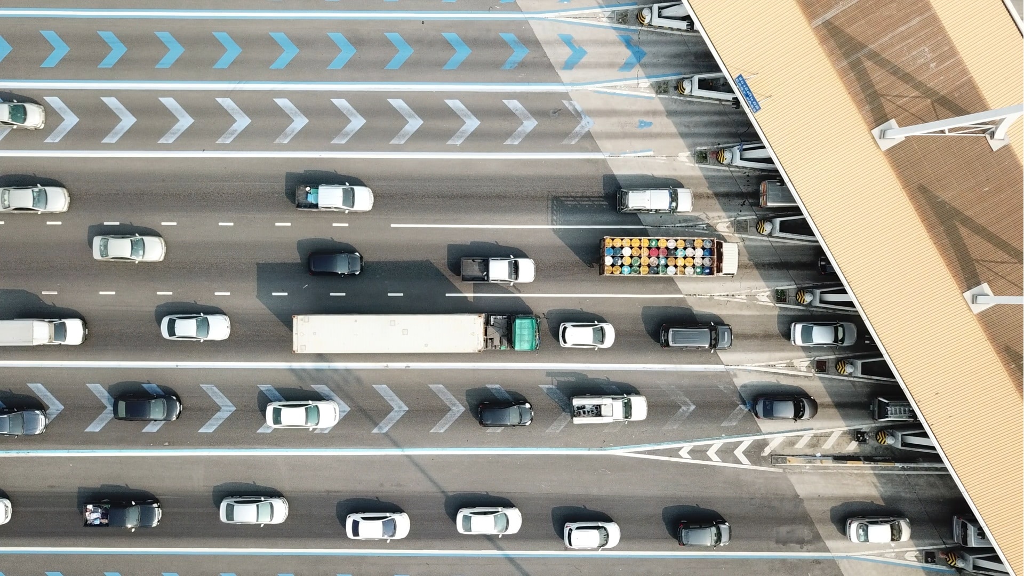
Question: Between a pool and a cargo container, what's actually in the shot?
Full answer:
Looking from above, you can make out a cargo container.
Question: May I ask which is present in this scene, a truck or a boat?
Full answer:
There is a truck in the scene.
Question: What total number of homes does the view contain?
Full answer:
There are no homes in the image.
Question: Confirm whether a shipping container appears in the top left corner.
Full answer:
No, there is no shipping container in the top left corner.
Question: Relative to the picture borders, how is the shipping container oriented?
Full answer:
The shipping container has been laid out from side to side relative to the frame.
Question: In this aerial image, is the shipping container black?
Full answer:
No, the color of the shipping container is white.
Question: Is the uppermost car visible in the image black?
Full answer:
No, from above the uppermost car looks white.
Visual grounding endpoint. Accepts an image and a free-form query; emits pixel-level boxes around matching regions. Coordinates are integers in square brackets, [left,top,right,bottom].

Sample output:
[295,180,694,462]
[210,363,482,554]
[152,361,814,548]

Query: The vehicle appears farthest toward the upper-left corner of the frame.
[0,99,48,131]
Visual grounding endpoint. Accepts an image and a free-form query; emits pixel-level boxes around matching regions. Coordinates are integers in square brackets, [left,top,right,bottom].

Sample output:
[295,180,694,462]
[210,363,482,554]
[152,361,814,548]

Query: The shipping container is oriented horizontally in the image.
[293,313,485,353]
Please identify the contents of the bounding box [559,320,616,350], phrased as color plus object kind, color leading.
white car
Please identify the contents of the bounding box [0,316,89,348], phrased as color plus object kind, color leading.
white truck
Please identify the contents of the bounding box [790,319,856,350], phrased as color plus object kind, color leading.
gray car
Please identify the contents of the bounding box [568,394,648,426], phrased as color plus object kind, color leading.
white truck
